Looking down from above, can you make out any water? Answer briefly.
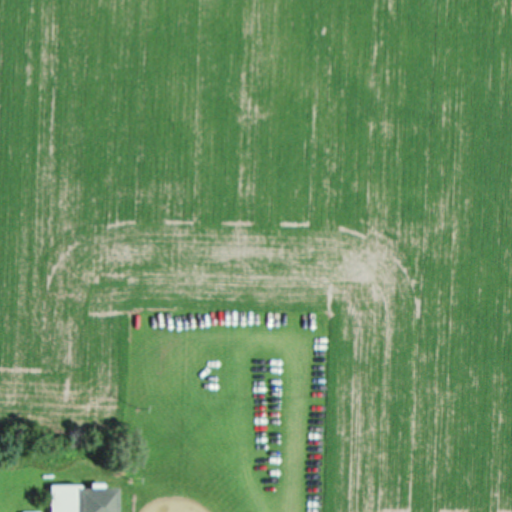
No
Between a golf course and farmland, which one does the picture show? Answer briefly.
farmland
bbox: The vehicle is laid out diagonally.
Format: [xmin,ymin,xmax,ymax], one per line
[196,366,213,380]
